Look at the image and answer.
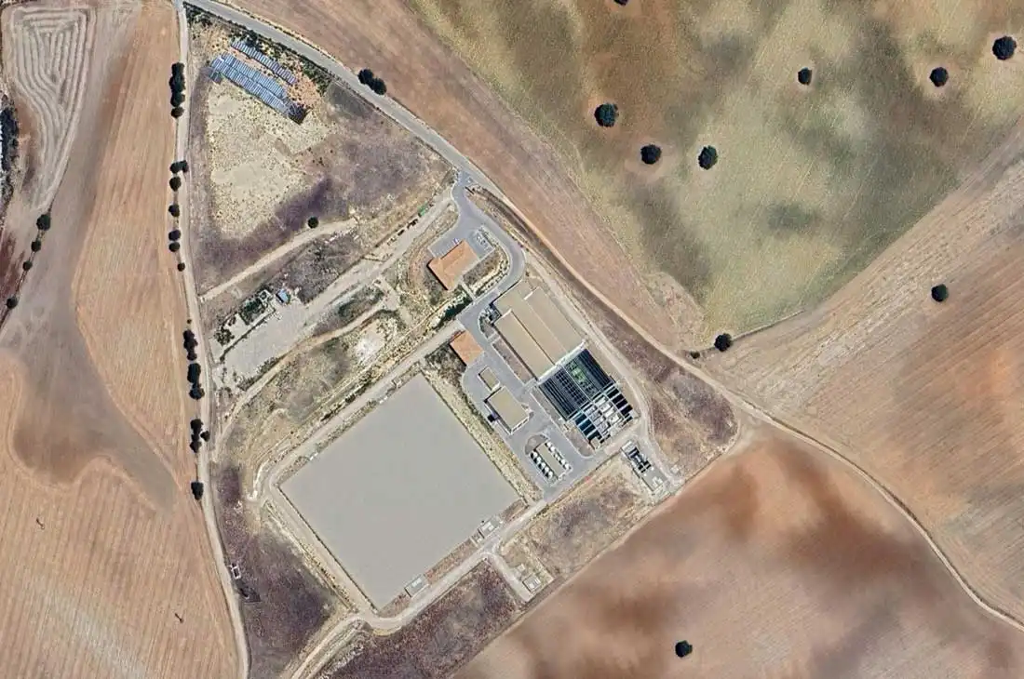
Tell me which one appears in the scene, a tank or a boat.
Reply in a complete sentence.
It is a tank that can be seen here.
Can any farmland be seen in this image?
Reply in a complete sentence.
Yes, farmland can be seen from above here.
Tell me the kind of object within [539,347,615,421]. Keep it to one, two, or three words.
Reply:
storage tank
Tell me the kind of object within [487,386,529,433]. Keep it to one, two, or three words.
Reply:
building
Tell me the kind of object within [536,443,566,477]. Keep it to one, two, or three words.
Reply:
building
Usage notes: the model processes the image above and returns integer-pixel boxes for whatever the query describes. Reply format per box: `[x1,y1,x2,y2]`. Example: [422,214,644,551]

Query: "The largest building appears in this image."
[493,280,584,379]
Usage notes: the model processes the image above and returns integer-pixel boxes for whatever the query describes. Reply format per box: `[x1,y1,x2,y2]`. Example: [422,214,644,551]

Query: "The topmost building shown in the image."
[426,240,480,288]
